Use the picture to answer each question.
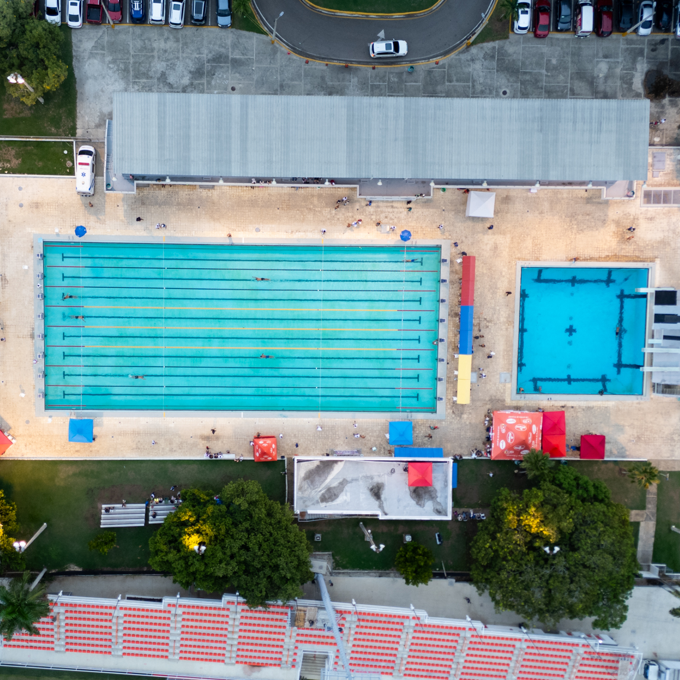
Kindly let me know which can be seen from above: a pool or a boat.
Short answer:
pool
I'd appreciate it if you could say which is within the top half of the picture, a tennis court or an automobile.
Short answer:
automobile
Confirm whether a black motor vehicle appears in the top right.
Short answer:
Yes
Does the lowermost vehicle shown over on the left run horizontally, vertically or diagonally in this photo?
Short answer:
vertically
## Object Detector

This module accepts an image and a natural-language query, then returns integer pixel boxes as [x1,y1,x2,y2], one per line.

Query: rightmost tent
[573,433,606,459]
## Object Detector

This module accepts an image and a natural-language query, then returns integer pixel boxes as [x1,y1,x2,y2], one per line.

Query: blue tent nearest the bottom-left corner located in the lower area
[69,417,96,442]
